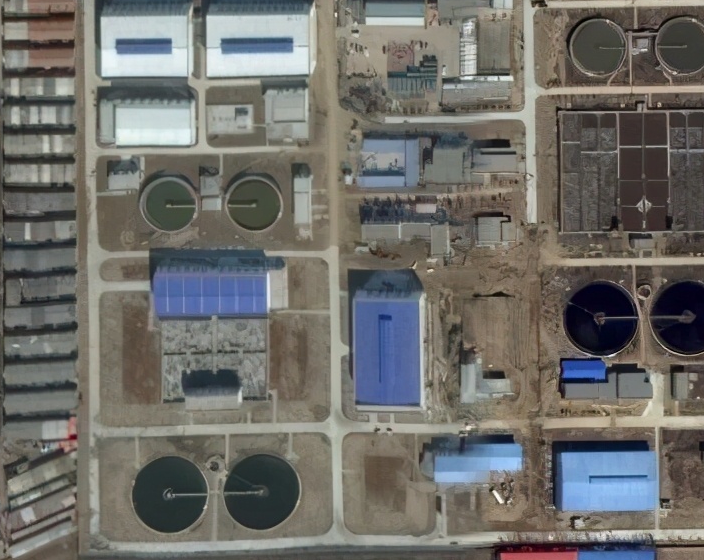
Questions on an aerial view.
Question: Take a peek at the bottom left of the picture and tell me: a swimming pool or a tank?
tank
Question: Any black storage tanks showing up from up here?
Yes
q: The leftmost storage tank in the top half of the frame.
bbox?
[139,175,198,232]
